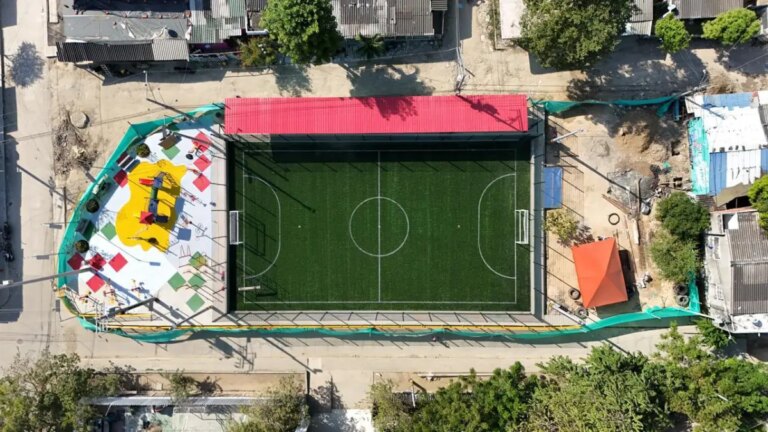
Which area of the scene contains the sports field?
center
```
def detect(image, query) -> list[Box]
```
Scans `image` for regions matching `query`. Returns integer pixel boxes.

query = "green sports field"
[230,140,530,311]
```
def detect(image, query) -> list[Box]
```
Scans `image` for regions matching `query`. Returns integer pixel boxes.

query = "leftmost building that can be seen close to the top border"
[57,0,192,67]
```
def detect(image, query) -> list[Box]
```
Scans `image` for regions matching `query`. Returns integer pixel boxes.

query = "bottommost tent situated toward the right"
[565,237,628,308]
